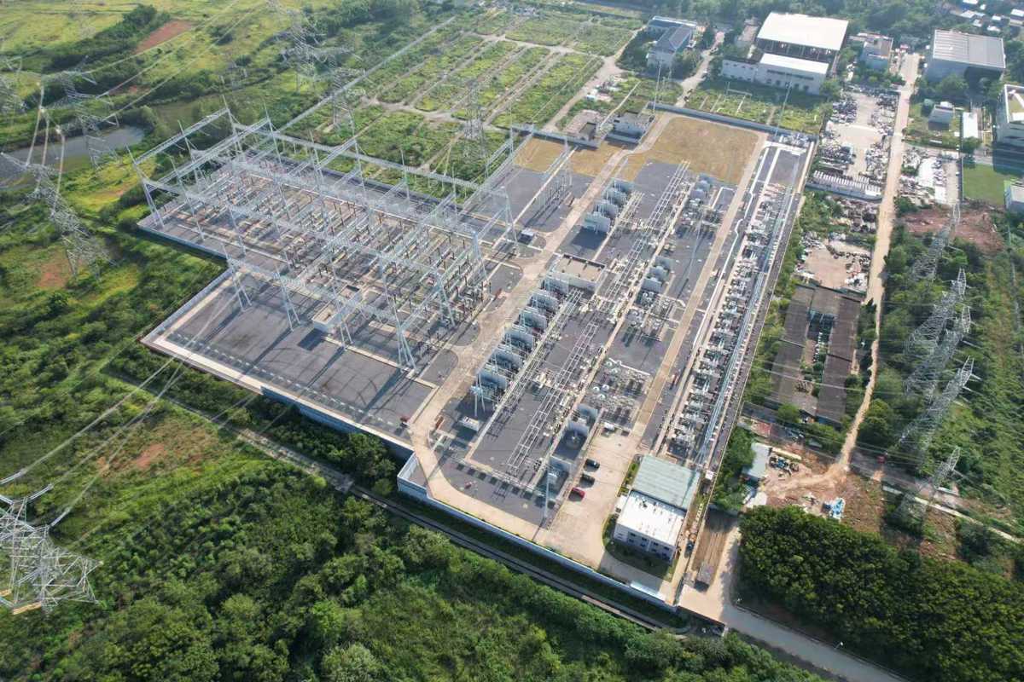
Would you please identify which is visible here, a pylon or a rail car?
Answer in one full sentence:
Visible in the photo is a pylon.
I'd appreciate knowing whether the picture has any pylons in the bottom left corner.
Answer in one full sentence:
Yes, a pylon appears in the bottom left corner.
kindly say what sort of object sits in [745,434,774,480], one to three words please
shed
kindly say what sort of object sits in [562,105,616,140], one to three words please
house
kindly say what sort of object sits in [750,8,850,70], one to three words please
building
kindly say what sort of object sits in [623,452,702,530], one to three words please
building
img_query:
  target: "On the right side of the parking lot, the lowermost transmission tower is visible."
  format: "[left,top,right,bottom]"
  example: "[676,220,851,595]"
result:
[880,447,959,534]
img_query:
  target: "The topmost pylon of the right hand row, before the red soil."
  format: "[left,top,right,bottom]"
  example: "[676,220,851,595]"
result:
[899,205,957,292]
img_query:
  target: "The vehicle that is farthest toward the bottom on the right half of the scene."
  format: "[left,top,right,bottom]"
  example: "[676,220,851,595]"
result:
[697,558,717,588]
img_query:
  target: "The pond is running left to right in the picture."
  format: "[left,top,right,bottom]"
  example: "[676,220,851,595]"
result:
[0,128,142,180]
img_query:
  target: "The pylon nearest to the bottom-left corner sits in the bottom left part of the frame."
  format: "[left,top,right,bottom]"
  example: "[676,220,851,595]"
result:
[0,480,116,621]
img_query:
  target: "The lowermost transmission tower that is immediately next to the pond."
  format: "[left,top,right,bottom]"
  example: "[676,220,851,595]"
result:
[23,170,135,287]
